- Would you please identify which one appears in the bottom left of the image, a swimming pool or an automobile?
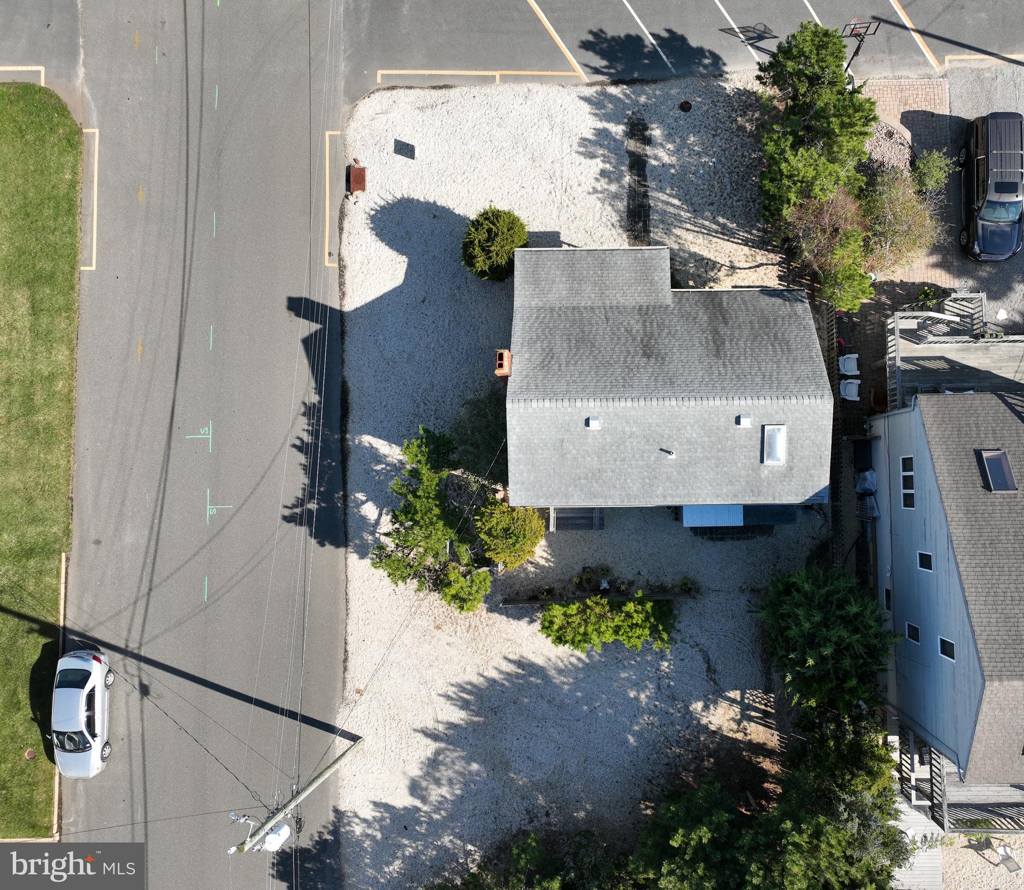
automobile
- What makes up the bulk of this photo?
paved ground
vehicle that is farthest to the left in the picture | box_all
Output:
[43,647,117,777]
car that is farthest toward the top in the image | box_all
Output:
[960,114,1024,267]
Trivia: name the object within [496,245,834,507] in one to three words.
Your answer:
house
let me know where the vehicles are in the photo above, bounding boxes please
[960,114,1024,267]
[43,647,117,777]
